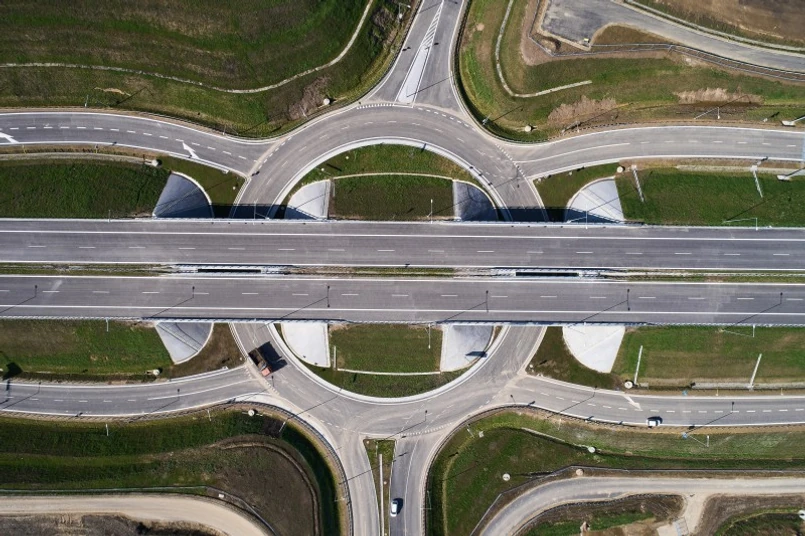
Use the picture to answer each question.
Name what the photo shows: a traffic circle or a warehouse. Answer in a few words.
traffic circle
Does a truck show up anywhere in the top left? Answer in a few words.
No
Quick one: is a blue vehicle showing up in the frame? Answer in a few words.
No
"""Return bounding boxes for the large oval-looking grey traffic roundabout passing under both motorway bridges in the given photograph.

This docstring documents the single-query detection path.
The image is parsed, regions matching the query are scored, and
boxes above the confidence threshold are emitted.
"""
[219,104,559,436]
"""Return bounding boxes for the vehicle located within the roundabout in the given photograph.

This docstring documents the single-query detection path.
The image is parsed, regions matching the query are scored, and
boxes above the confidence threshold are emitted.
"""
[248,347,274,377]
